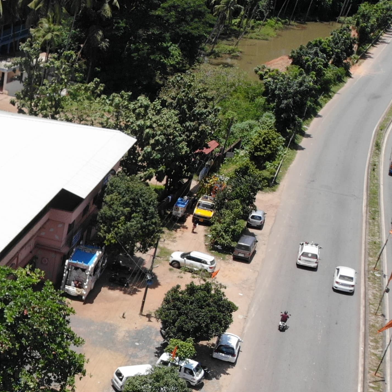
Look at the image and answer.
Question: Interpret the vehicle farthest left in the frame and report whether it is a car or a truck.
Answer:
truck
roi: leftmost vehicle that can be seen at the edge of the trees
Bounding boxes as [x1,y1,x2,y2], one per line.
[64,230,112,293]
